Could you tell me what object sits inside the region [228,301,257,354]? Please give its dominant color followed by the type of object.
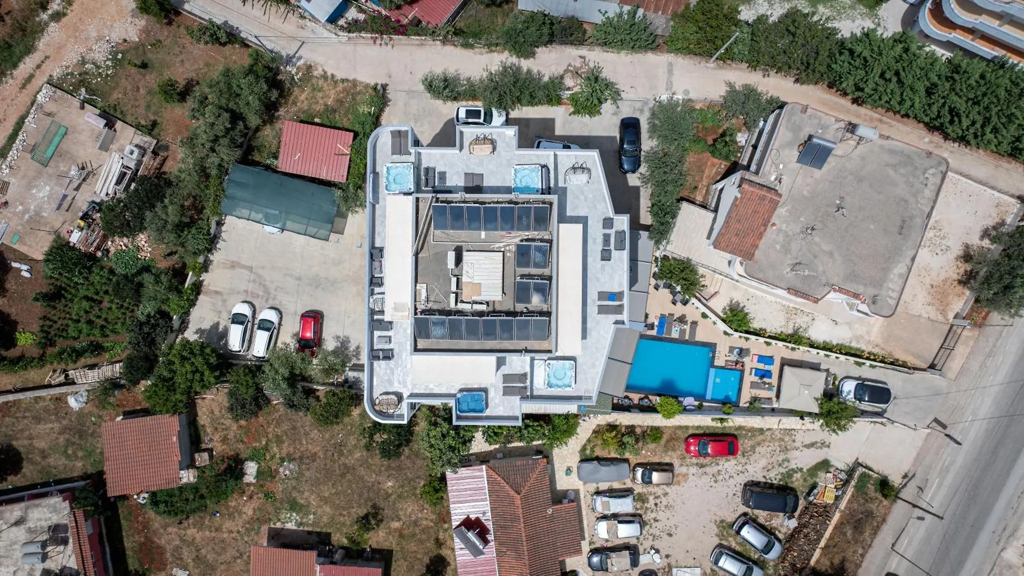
white car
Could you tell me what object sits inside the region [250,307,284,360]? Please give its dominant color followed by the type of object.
white car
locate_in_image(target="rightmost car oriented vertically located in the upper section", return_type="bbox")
[617,117,644,174]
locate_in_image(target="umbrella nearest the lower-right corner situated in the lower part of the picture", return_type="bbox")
[779,366,826,412]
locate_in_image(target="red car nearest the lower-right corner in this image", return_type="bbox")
[683,434,739,460]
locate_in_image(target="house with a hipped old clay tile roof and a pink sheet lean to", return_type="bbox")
[447,454,583,576]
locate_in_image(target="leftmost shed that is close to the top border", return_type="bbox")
[299,0,347,29]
